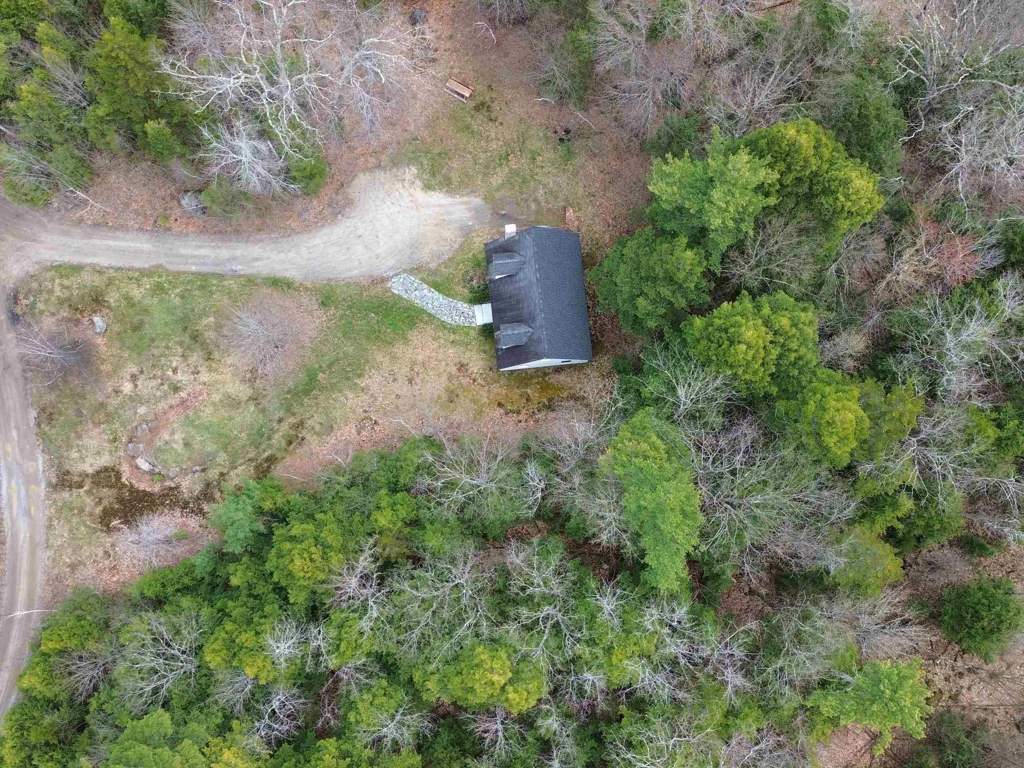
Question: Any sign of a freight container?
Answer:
No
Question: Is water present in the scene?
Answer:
No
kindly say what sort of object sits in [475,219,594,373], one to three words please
house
